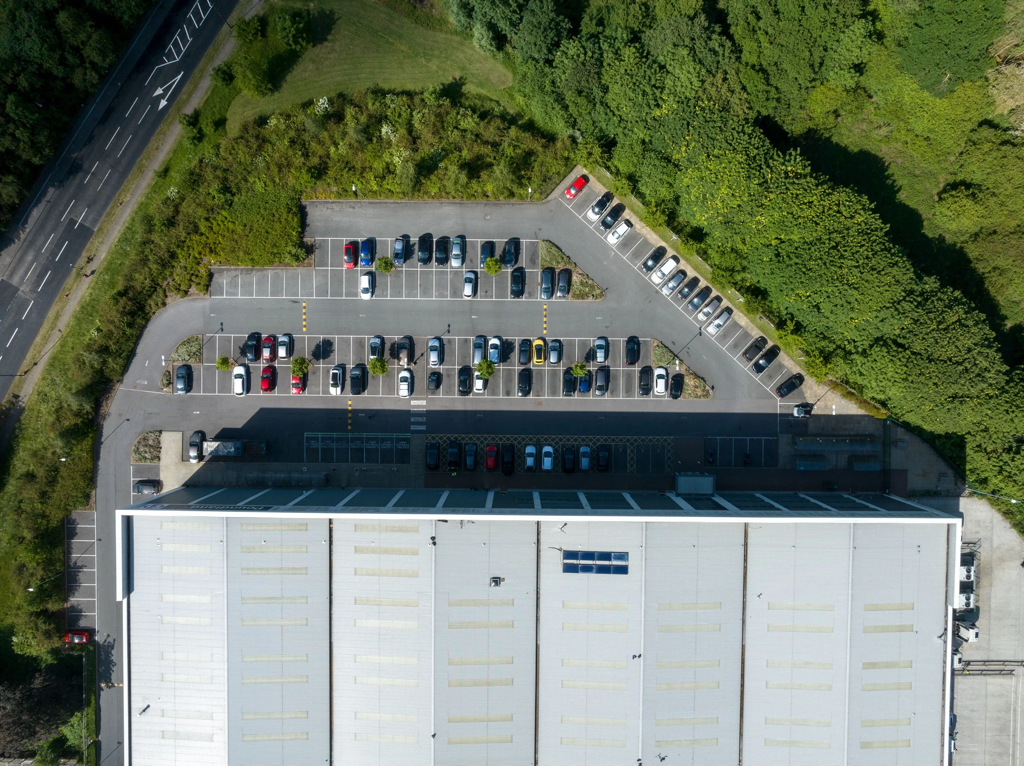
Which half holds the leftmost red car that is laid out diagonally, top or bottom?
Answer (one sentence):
The leftmost red car that is laid out diagonally sits in the top half of the picture.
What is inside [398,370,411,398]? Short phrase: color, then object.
white vehicle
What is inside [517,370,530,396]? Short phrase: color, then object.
black vehicle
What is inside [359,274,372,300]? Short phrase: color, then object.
white vehicle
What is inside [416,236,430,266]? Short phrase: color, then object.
black car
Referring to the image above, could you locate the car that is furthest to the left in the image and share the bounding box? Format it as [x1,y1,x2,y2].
[66,630,91,644]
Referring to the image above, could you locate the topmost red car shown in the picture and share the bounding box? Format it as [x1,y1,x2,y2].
[564,174,589,200]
